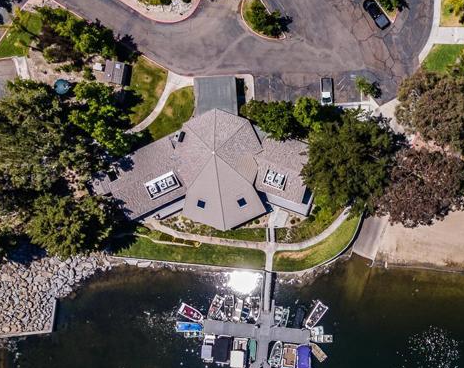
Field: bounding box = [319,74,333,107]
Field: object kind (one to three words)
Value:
vehicle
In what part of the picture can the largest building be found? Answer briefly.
center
